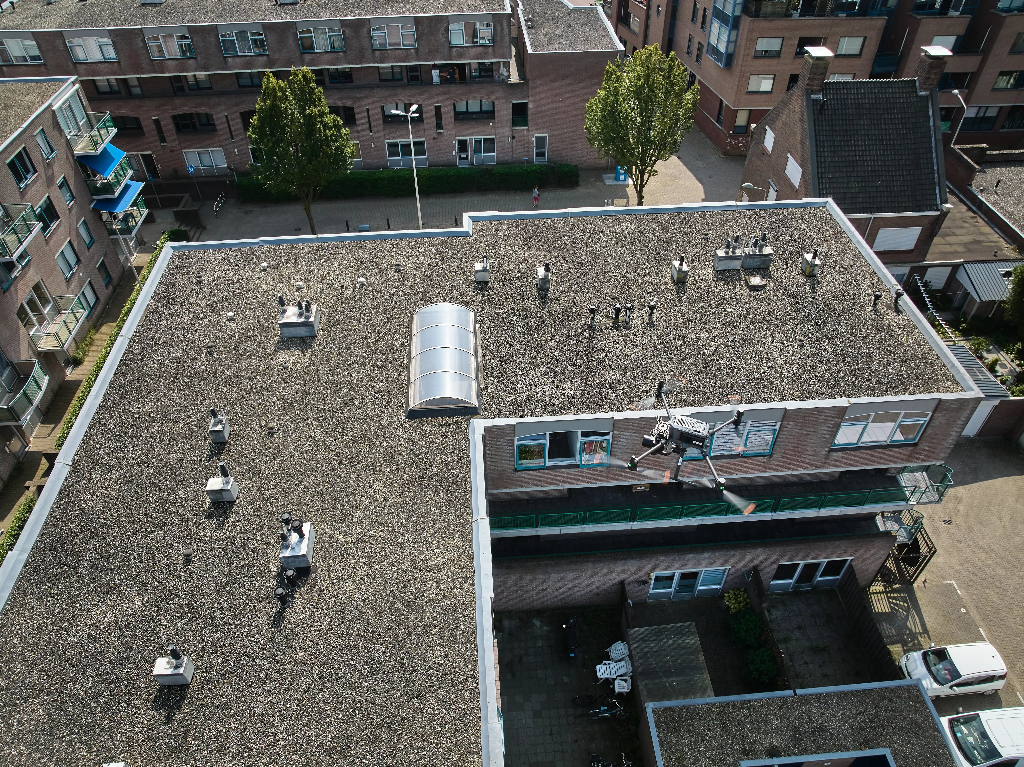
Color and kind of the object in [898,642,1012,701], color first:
white car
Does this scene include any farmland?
No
